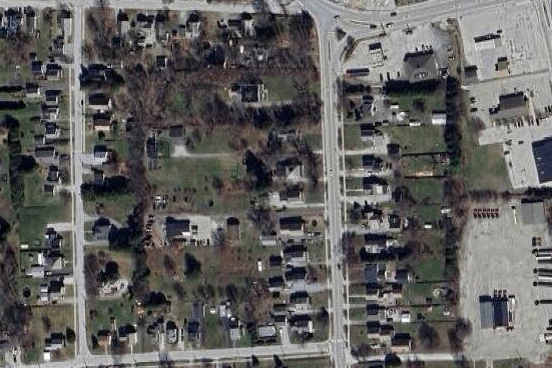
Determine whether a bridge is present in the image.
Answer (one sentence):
No, the scene contains no bridge.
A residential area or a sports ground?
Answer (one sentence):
The area seen from above is a residential area.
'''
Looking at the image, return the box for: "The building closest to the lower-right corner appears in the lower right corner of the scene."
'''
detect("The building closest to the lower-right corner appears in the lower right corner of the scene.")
[480,296,509,328]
